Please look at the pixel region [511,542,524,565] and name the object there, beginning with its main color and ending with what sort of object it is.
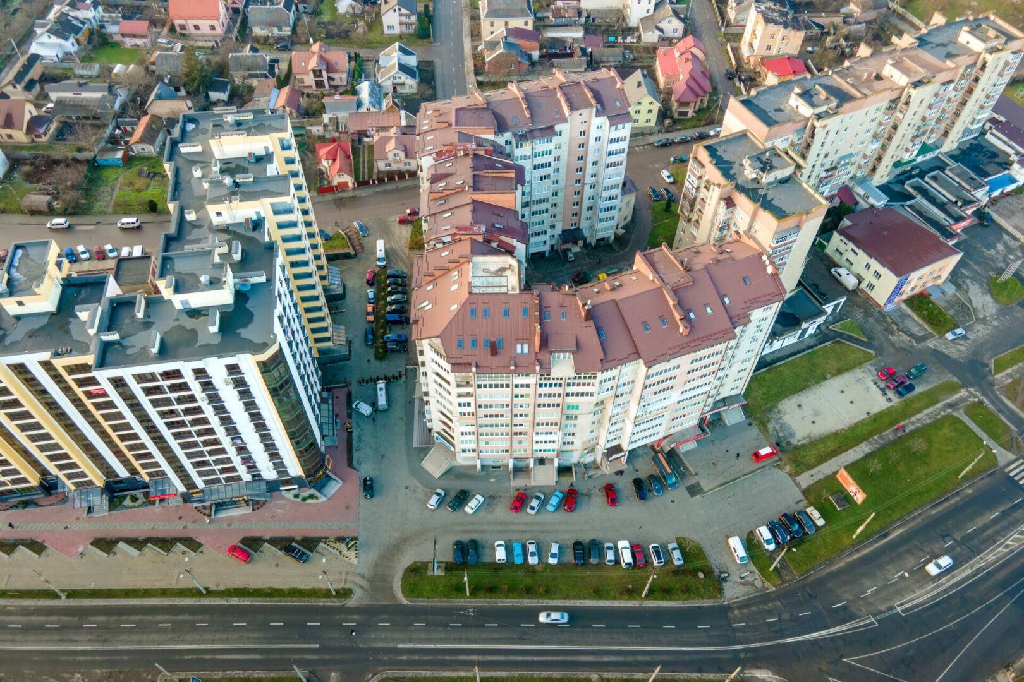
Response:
blue vehicle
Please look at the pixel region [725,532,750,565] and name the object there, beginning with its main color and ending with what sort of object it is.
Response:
white vehicle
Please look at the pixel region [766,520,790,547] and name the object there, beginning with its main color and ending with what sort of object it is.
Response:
blue car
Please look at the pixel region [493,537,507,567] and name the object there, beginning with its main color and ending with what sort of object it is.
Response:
white vehicle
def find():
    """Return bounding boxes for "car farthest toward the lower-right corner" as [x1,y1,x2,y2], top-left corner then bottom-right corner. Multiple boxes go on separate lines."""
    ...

[923,553,956,577]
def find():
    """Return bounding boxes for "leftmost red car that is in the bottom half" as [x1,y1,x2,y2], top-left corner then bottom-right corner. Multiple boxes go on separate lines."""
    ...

[225,543,254,566]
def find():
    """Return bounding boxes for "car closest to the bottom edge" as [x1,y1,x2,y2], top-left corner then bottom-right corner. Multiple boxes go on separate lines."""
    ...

[539,611,569,625]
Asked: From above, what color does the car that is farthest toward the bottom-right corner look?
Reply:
white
